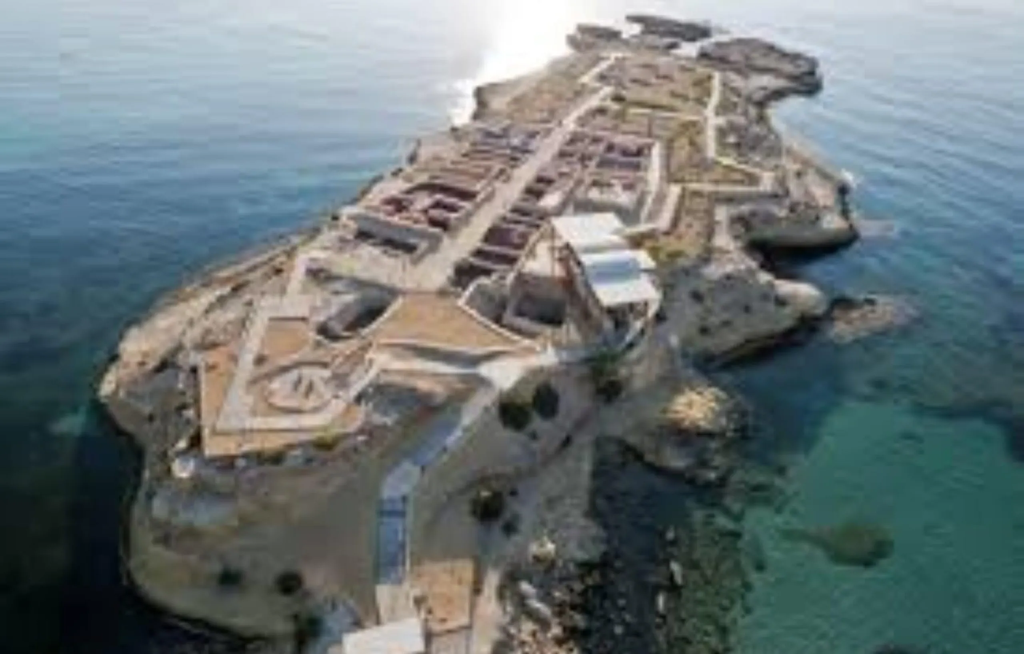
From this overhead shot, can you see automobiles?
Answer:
No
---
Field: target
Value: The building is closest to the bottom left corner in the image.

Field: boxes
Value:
[341,617,425,654]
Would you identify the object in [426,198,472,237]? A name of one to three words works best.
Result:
building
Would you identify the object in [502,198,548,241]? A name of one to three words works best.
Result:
building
